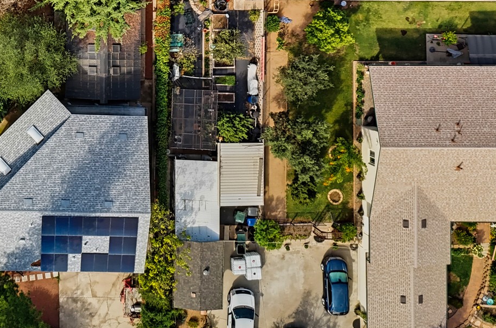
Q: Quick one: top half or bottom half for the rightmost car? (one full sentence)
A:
The rightmost car sits in the bottom half of the picture.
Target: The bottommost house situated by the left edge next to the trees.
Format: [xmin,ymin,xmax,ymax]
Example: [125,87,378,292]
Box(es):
[0,92,151,273]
